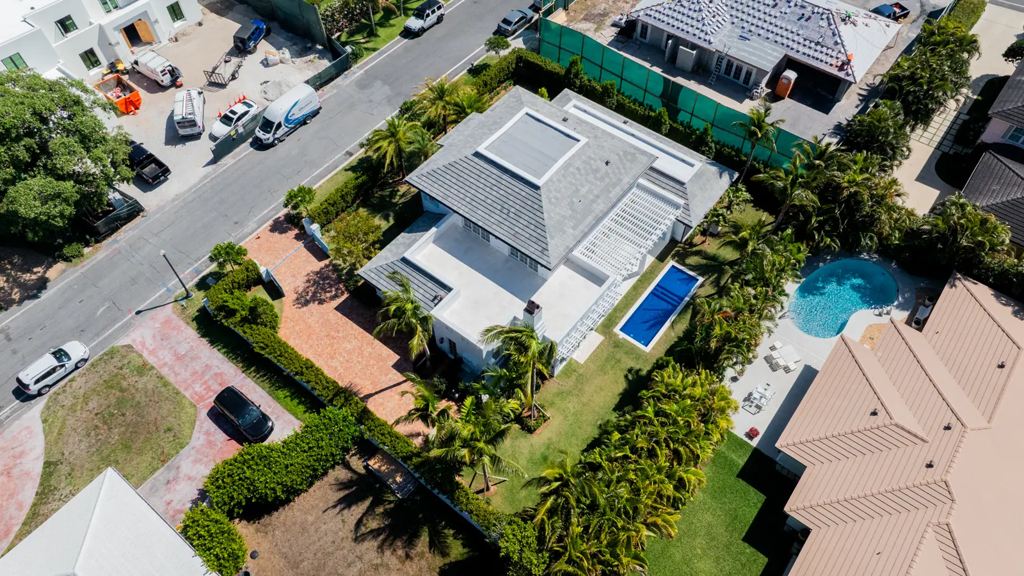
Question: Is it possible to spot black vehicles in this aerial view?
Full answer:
Yes, there is a black vehicle in the image.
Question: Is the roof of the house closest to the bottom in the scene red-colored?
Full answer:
No, the roof of the house closest to the bottom is actually white.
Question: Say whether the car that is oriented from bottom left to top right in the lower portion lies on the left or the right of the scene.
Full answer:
The car that is oriented from bottom left to top right in the lower portion sits on the left side.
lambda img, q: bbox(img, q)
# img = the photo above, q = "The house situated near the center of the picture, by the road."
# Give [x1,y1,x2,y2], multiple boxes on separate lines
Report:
[356,85,738,389]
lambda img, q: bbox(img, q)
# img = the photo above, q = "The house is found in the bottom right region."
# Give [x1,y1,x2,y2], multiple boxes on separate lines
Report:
[775,268,1024,576]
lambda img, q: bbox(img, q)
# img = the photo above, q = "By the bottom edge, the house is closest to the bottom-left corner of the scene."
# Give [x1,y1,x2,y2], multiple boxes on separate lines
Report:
[0,466,225,576]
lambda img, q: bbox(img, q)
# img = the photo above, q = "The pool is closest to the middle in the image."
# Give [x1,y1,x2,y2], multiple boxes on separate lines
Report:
[620,265,699,347]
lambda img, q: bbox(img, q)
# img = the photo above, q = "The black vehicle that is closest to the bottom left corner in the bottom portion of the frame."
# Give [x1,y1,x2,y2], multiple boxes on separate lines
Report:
[209,382,278,443]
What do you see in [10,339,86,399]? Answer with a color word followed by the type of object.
white car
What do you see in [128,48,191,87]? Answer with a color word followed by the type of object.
white van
